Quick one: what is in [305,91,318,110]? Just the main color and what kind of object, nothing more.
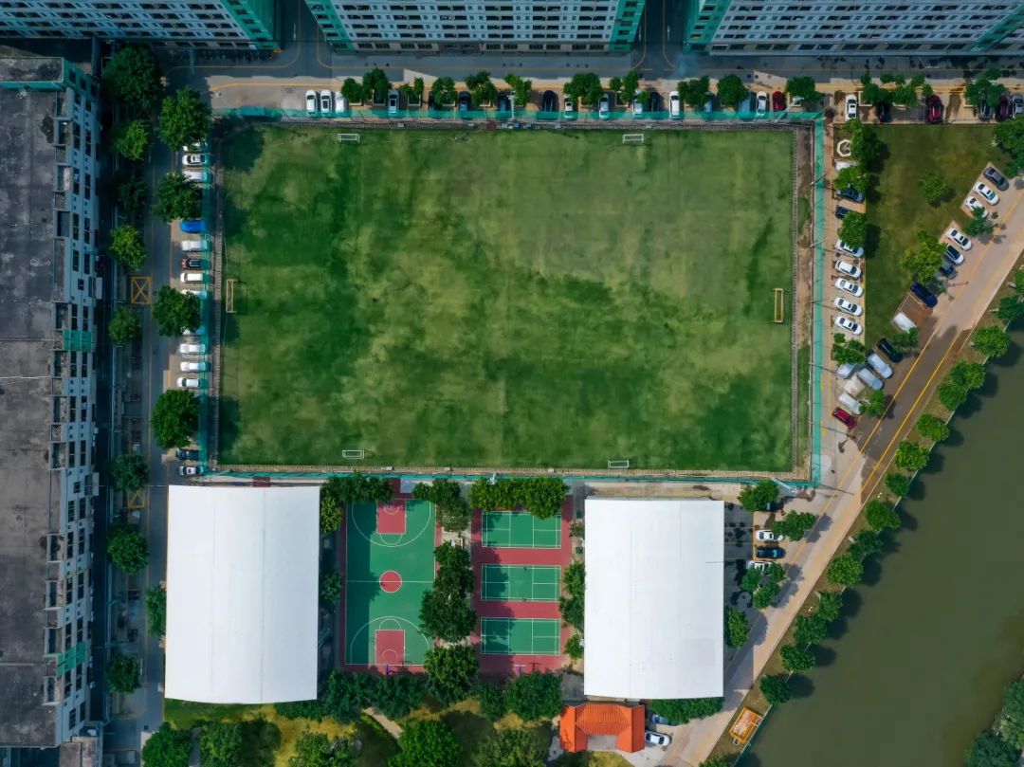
white vehicle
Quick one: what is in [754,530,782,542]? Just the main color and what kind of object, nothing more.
white vehicle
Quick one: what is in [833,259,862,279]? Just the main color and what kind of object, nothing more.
white car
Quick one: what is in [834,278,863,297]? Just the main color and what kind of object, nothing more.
white car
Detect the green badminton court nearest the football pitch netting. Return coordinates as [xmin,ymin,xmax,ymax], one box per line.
[482,511,561,548]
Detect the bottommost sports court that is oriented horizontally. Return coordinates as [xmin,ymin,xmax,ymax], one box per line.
[481,618,560,654]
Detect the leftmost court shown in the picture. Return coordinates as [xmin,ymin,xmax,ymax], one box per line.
[338,480,438,676]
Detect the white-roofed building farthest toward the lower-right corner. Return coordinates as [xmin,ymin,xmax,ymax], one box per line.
[583,499,724,699]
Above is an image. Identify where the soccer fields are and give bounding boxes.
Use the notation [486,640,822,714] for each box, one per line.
[206,120,814,481]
